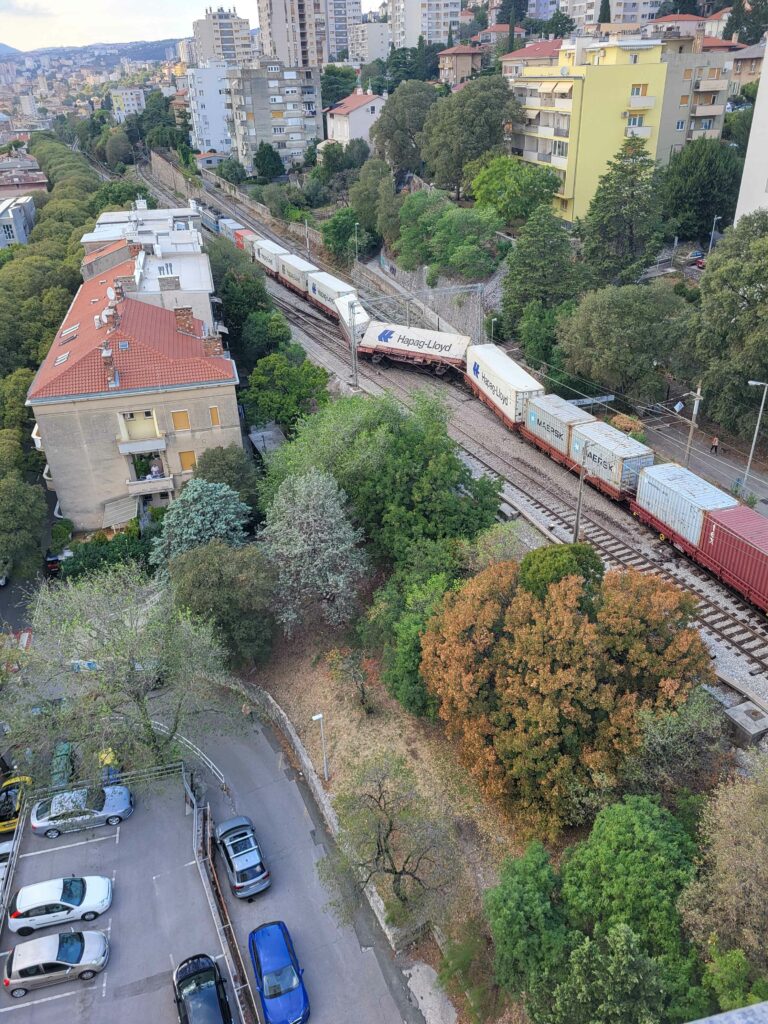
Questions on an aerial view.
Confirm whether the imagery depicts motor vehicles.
Yes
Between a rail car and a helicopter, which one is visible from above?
rail car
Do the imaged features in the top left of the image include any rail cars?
Yes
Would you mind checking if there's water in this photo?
No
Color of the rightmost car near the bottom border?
blue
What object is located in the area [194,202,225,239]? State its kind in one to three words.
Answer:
rail car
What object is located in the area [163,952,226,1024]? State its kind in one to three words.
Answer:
car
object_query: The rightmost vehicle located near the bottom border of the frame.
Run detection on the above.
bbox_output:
[245,916,311,1024]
